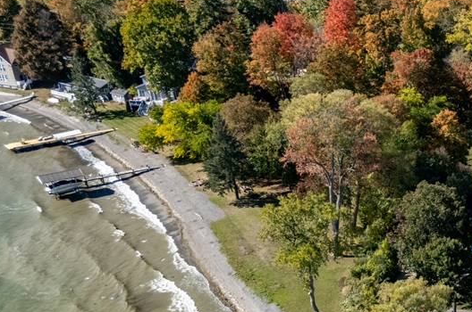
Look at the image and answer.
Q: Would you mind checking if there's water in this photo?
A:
Yes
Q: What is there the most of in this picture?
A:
trees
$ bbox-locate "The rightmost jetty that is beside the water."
[84,158,165,186]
